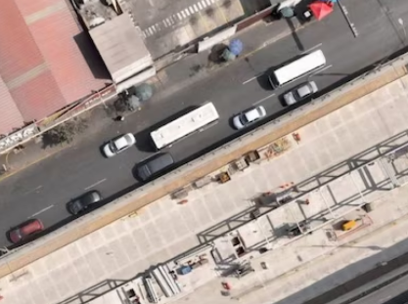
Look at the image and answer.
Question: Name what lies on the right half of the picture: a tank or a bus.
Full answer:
There is a bus on the right half of the picture.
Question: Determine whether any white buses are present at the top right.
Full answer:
Yes, a white bus shows up at the top right.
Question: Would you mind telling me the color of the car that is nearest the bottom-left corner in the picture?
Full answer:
From above, the car that is nearest the bottom-left corner appears red.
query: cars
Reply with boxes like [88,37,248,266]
[64,188,102,214]
[230,104,267,131]
[6,216,45,244]
[280,81,318,107]
[134,152,174,181]
[101,132,137,158]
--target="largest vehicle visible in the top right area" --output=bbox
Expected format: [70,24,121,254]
[266,47,327,93]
